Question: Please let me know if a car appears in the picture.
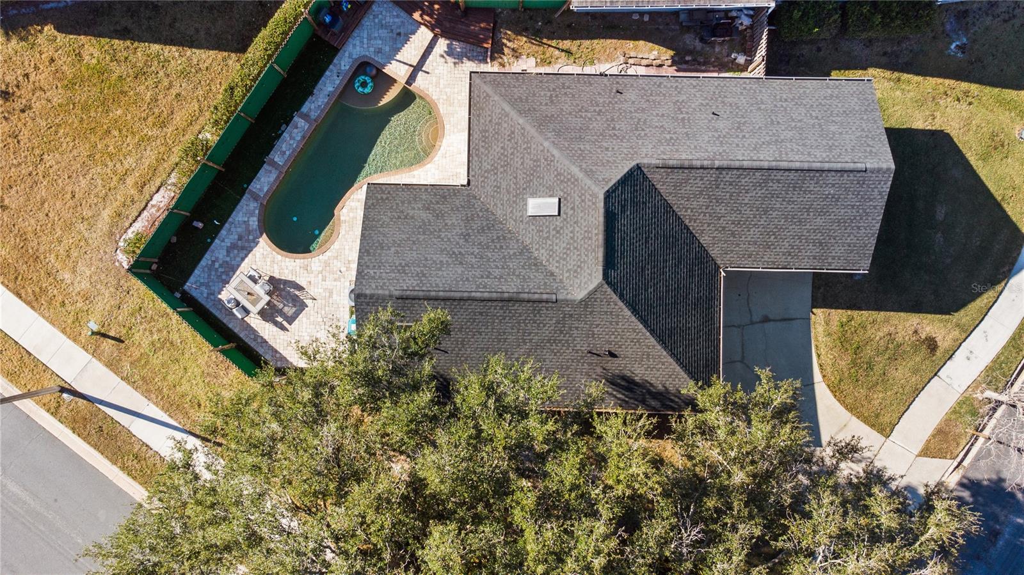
No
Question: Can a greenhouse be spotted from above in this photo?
No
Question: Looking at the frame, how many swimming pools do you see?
1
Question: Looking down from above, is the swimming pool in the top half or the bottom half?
top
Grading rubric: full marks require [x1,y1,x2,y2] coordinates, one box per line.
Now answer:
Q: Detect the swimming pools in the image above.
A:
[258,55,445,259]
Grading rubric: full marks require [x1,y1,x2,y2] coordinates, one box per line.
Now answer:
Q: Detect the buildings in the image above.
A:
[354,71,896,411]
[571,0,790,19]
